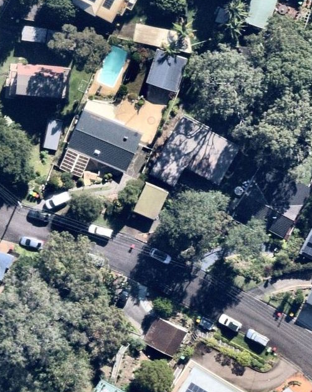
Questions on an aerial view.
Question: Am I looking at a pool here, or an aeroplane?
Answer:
pool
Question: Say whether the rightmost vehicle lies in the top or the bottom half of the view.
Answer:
bottom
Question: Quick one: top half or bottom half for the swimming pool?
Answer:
top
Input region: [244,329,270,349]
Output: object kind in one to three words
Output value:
vehicle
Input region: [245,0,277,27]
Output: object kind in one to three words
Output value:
shed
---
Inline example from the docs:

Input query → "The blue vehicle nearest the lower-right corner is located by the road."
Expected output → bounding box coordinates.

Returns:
[196,317,215,330]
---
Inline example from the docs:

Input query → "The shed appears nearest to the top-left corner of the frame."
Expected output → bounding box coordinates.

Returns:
[21,26,47,43]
